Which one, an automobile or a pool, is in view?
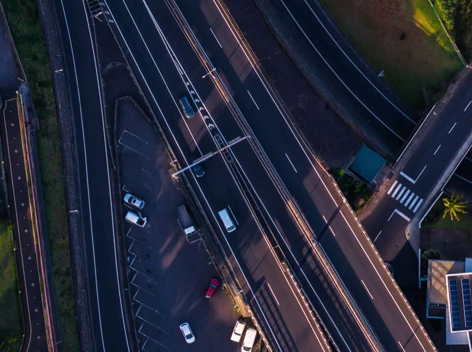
automobile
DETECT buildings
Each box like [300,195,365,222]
[352,144,386,182]
[421,257,472,352]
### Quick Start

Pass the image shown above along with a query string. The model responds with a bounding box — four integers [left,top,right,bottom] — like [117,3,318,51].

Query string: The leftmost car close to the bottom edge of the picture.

[178,322,195,345]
